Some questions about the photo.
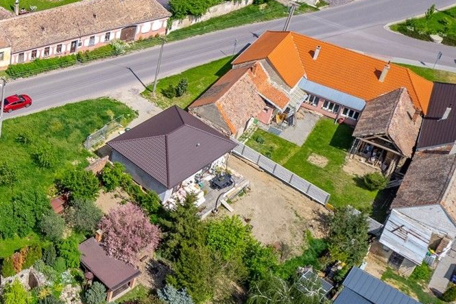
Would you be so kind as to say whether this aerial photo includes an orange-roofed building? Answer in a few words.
Yes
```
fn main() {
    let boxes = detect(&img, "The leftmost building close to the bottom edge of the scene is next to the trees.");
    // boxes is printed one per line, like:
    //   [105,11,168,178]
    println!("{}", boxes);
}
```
[78,238,140,304]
